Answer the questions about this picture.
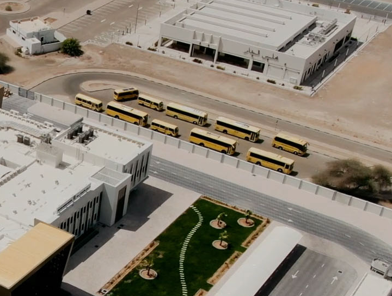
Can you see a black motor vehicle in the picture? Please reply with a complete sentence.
No, no black motor vehicle is visible in the scene.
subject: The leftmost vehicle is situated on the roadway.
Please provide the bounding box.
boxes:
[77,93,105,110]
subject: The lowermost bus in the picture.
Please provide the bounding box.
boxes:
[248,145,298,172]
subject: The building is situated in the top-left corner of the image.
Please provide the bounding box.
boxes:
[7,14,60,54]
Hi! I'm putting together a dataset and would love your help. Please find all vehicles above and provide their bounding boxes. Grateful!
[167,101,211,125]
[138,93,165,109]
[248,145,298,172]
[215,115,263,141]
[191,127,240,153]
[77,93,105,110]
[119,87,149,99]
[150,116,182,135]
[272,132,312,155]
[107,101,151,125]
